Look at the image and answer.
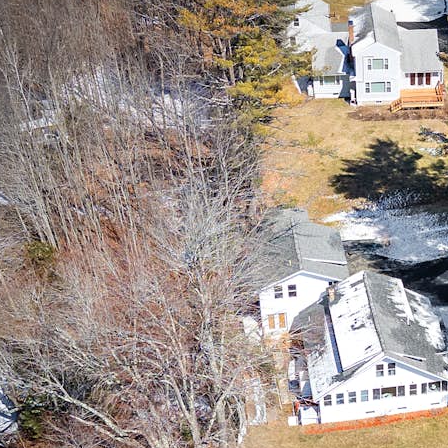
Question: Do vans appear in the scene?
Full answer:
No, I can't see a single van in this photo.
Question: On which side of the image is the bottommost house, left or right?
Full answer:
The bottommost house sits on the right side.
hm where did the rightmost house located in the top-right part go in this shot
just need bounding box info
[308,4,445,114]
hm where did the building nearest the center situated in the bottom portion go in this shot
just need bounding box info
[253,203,349,340]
